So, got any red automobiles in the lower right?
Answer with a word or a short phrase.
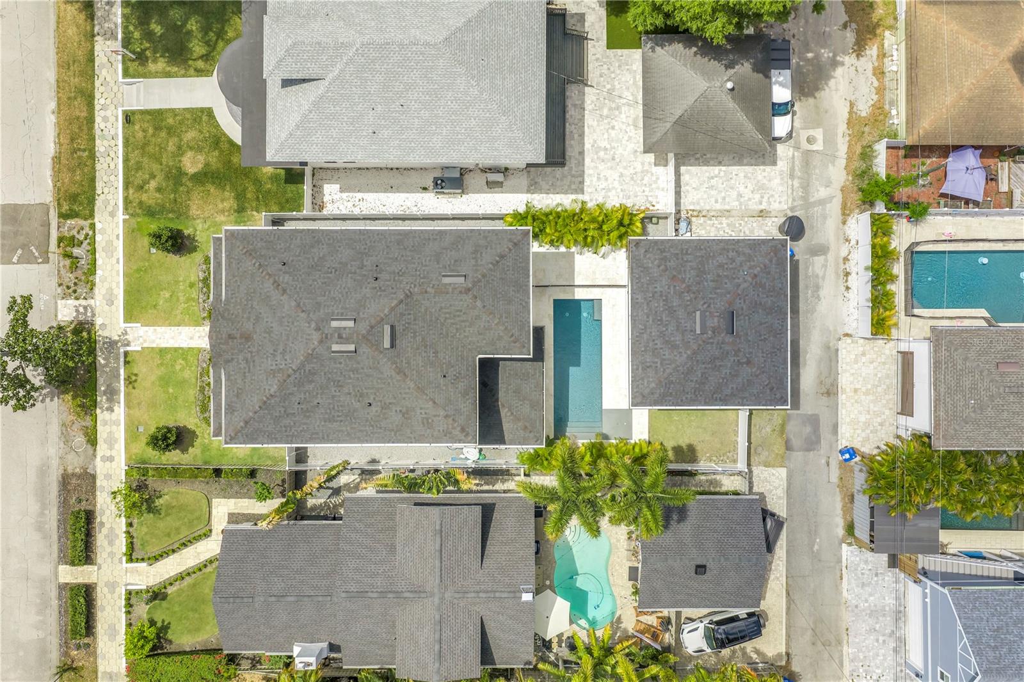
No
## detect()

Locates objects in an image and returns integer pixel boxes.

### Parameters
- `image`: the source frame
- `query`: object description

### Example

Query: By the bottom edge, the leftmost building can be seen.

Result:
[211,492,536,682]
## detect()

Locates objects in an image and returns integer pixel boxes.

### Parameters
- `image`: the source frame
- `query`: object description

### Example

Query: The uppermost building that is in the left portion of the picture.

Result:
[216,0,547,178]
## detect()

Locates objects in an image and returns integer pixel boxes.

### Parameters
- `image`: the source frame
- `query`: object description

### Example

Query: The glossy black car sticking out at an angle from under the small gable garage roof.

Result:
[762,510,792,552]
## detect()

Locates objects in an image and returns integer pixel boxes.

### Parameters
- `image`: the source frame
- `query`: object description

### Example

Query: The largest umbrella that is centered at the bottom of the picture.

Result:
[535,589,571,641]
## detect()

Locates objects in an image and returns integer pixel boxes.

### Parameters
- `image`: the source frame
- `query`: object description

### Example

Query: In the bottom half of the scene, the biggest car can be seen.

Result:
[678,611,765,654]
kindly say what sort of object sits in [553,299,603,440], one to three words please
swimming pool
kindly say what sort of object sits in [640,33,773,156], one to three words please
building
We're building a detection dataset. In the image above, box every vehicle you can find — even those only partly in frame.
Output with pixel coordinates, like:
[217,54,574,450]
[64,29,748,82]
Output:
[773,39,798,142]
[678,611,765,654]
[762,510,792,552]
